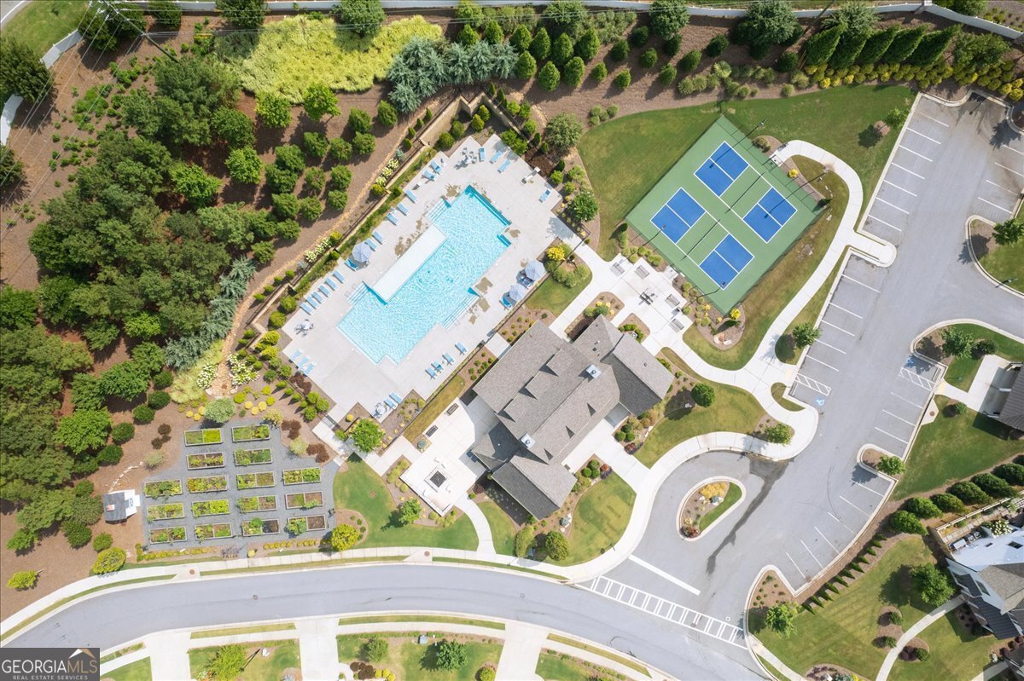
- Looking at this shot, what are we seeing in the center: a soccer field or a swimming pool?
swimming pool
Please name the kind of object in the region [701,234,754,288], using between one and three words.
sports court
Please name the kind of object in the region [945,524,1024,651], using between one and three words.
house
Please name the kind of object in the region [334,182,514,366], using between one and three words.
swimming pool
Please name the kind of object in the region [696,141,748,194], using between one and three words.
sports court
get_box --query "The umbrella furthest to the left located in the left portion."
[352,242,373,263]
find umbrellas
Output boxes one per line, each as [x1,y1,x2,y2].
[352,242,373,263]
[525,260,545,280]
[508,281,529,302]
